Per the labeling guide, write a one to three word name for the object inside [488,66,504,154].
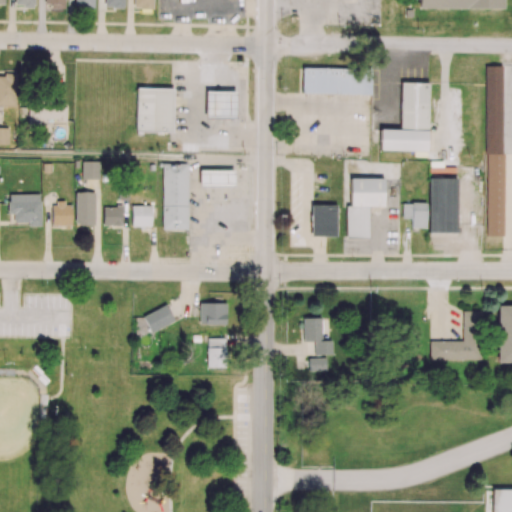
building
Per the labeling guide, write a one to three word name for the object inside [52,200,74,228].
house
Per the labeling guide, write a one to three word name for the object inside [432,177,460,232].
building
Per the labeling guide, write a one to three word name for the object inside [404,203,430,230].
house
